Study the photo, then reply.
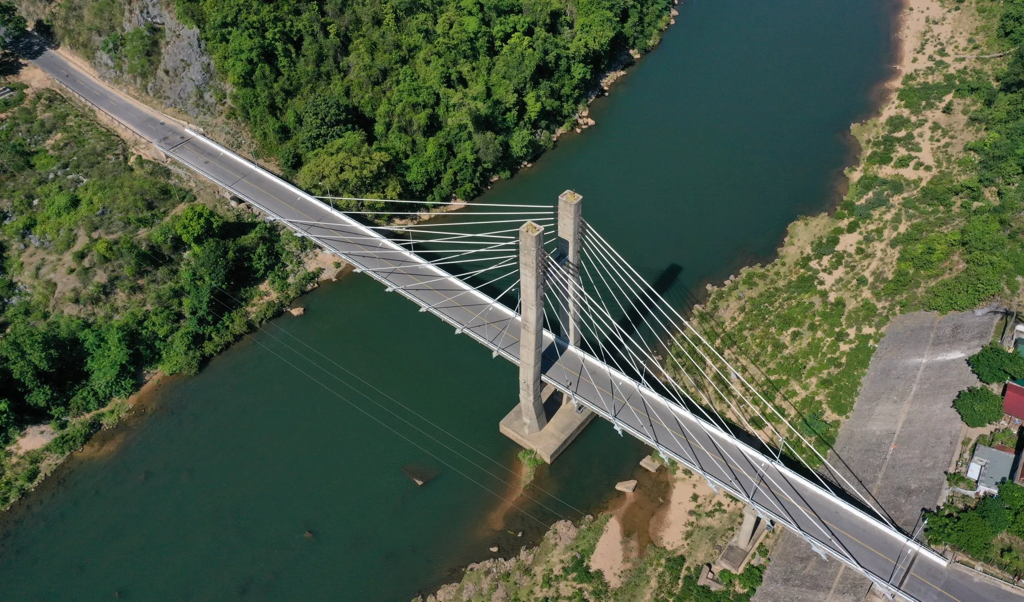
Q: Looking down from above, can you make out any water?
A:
Yes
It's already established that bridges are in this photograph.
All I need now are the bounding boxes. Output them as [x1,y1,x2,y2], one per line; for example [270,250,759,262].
[151,127,951,602]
